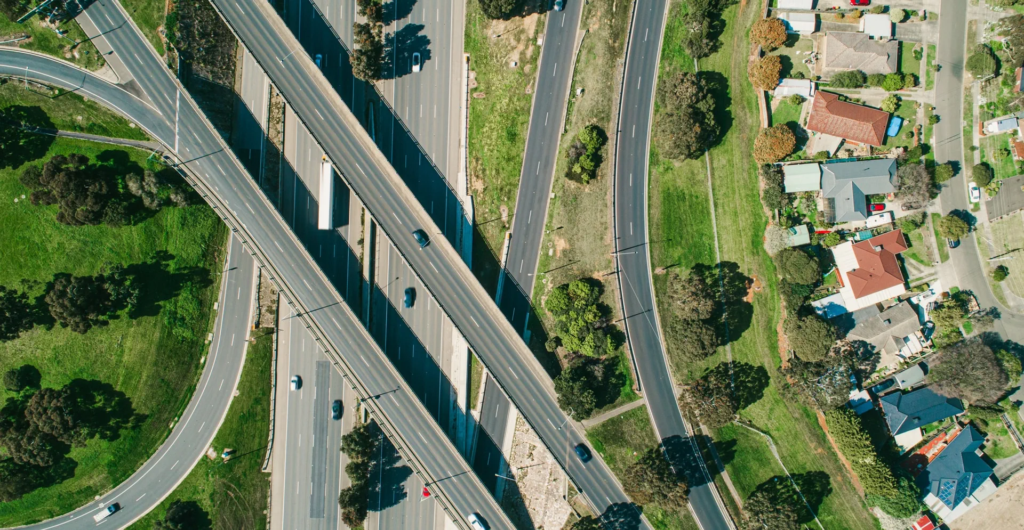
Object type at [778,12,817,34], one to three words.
shed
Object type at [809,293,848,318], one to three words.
building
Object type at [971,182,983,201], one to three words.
vehicle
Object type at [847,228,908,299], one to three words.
house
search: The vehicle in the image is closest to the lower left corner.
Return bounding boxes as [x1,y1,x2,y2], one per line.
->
[93,505,117,523]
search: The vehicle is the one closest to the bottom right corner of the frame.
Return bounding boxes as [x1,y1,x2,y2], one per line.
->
[875,380,895,394]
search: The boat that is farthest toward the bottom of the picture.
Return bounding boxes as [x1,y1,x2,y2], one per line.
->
[914,295,941,312]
